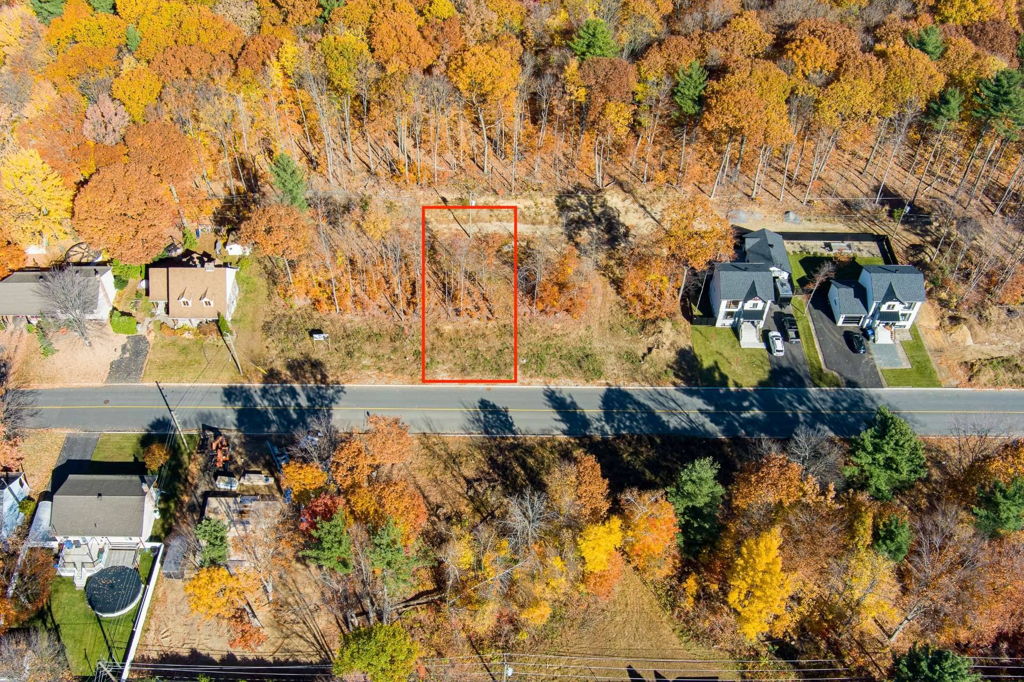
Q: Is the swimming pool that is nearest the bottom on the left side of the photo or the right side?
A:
left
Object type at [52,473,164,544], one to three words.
house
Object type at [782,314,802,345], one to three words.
vehicle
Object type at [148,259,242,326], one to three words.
house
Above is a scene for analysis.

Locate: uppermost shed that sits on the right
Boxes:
[735,227,792,281]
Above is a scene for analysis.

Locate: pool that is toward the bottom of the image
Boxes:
[91,568,148,620]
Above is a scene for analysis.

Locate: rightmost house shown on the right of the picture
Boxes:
[825,265,926,350]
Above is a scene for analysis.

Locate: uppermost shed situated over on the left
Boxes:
[223,228,250,255]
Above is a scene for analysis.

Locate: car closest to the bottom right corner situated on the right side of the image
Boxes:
[848,330,867,354]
